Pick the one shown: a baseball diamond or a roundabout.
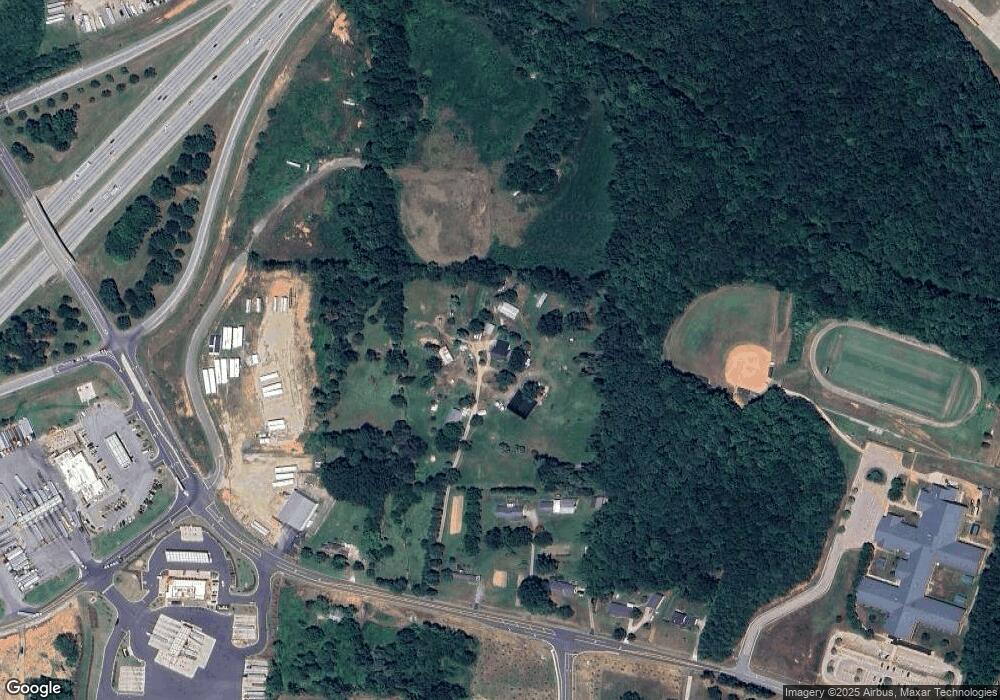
baseball diamond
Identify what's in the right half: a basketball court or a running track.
running track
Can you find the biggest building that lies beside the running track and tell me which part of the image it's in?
bottom right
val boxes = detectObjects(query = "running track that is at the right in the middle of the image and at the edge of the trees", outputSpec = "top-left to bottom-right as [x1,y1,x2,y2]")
[809,322,980,426]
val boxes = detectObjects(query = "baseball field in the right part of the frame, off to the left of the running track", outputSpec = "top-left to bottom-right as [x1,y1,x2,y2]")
[664,283,783,403]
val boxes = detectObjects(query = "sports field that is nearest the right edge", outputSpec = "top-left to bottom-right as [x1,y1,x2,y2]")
[813,326,976,422]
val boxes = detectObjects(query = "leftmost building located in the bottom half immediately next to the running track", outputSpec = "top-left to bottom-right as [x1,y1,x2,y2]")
[854,479,985,654]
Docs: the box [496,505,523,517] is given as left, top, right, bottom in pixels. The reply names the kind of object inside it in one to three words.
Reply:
house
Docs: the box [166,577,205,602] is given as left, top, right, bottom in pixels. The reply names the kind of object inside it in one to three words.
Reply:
building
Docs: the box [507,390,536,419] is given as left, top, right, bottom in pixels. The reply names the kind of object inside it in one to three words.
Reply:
house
